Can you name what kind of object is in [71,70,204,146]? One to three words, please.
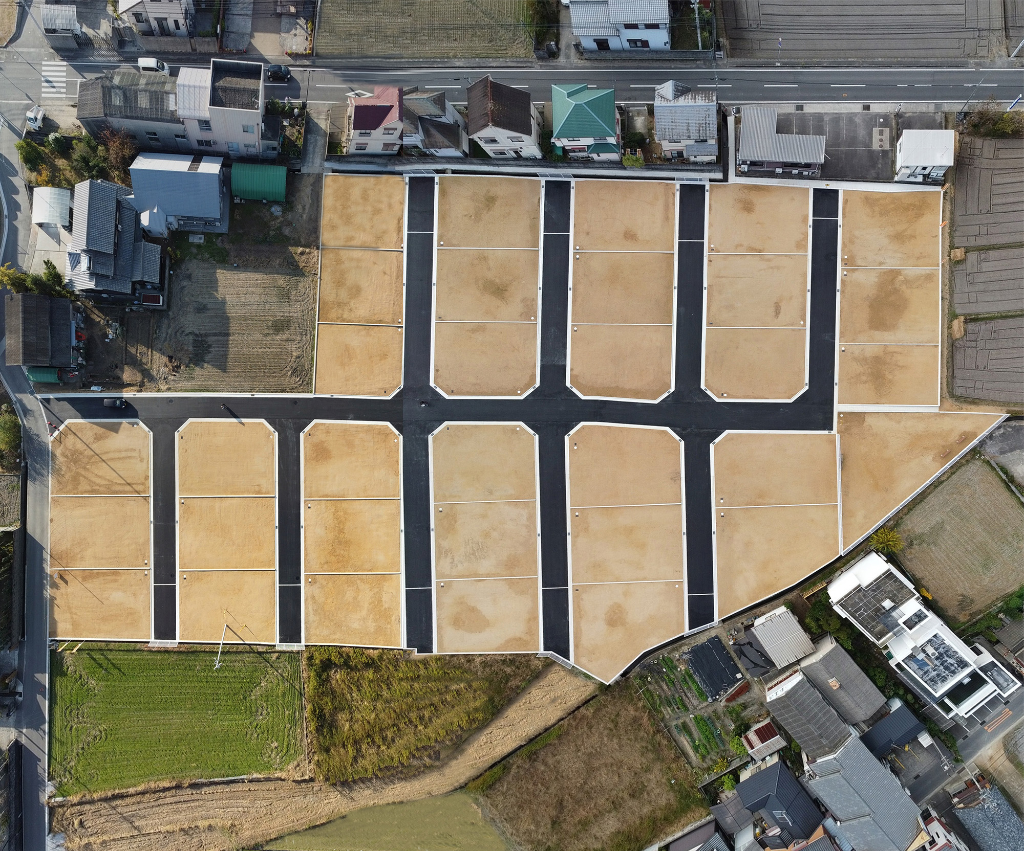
building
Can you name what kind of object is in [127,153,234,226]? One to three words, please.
building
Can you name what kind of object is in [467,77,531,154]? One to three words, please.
house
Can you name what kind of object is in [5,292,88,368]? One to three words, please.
barn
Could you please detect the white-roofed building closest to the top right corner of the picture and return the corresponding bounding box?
[883,128,961,178]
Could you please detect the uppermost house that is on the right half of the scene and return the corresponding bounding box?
[570,0,671,49]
